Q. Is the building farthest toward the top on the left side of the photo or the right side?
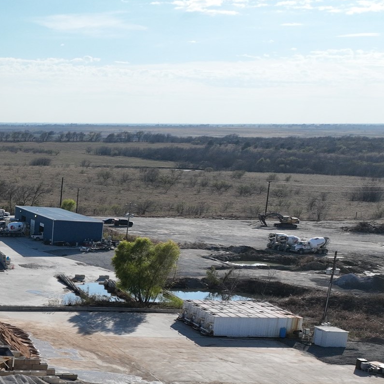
left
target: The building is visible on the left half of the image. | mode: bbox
[13,204,108,245]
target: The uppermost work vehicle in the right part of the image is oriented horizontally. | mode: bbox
[259,211,301,228]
